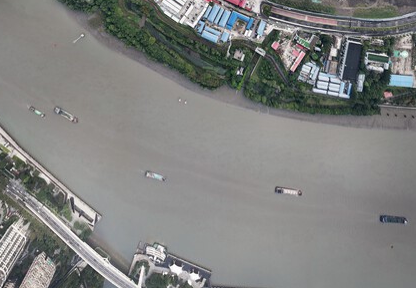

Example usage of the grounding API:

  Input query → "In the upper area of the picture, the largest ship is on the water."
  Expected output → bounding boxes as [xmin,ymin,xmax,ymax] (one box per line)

[54,106,78,123]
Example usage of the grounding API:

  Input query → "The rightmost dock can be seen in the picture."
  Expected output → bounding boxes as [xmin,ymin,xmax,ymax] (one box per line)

[155,254,212,287]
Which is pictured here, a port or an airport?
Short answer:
port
